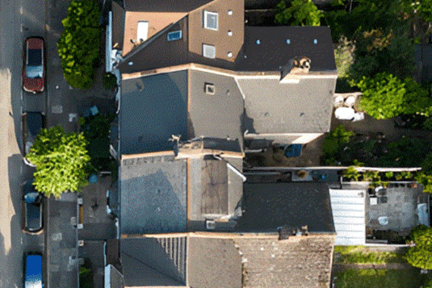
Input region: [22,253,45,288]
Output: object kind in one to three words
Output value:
car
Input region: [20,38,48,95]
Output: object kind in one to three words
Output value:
car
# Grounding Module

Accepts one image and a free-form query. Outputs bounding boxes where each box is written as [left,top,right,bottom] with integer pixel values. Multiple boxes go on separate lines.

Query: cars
[22,253,45,288]
[19,112,44,166]
[20,38,48,95]
[20,182,46,234]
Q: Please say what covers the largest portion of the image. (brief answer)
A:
buildings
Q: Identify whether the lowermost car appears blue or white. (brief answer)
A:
blue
